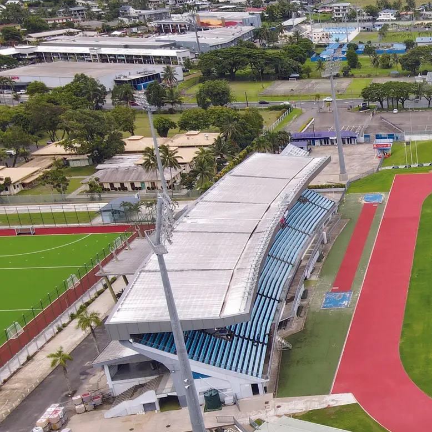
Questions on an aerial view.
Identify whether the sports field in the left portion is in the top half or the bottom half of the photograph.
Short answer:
bottom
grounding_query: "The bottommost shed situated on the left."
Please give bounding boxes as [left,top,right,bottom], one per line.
[94,192,150,224]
